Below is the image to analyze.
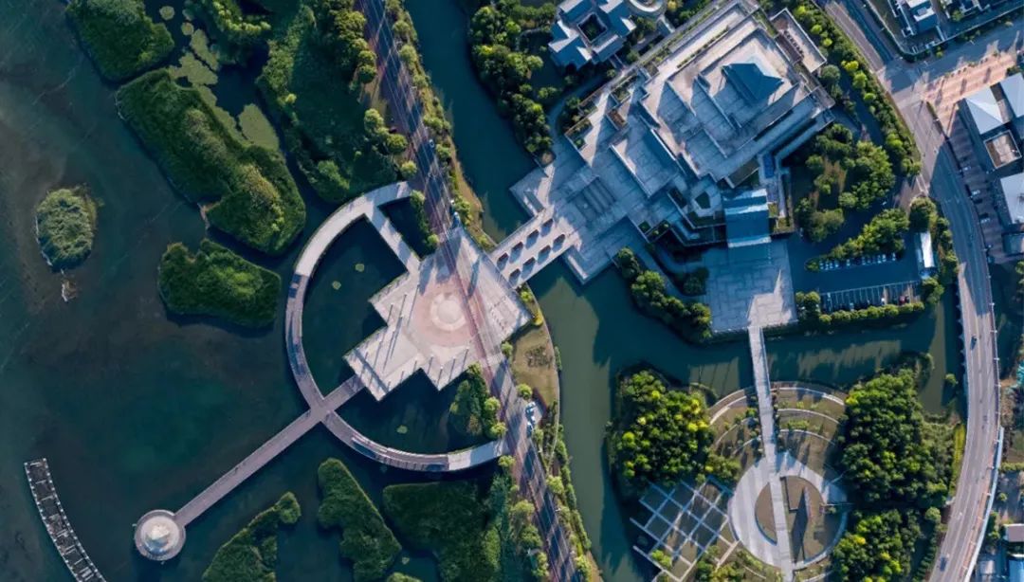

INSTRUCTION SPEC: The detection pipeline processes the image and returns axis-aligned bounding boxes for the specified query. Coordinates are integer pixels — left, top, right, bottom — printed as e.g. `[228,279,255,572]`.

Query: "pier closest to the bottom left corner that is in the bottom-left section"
[24,459,105,582]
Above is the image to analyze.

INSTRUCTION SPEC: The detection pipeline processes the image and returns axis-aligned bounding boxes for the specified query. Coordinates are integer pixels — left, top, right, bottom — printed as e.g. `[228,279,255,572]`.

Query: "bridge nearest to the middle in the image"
[490,215,572,289]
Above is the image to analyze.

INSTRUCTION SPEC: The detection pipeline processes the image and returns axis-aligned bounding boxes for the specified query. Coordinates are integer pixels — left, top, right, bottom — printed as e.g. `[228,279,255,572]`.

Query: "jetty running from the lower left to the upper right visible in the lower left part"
[172,375,366,527]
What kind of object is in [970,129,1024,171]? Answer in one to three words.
building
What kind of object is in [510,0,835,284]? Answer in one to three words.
building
